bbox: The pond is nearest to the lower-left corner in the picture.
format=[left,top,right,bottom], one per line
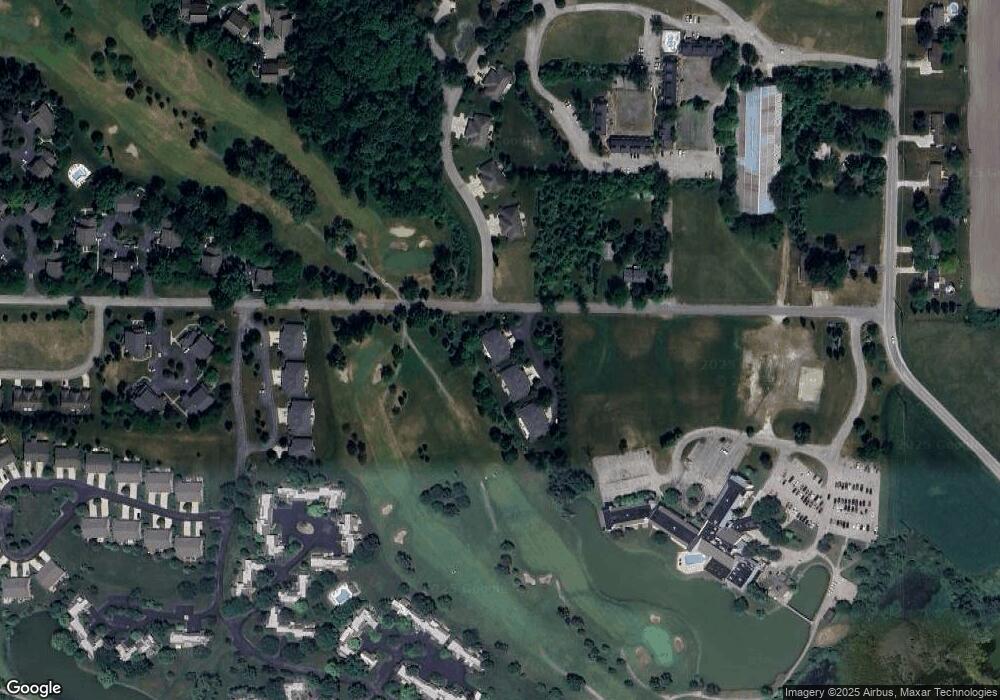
[10,611,129,700]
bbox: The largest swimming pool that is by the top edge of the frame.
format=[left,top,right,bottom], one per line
[662,30,680,53]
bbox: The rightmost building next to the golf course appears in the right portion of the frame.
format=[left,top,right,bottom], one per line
[598,474,760,590]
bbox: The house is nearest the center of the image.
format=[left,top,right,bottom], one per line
[480,326,516,369]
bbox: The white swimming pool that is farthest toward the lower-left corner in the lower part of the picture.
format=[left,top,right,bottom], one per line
[329,583,352,605]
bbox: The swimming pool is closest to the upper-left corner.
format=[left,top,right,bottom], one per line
[68,164,91,187]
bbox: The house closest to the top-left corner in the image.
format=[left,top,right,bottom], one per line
[27,102,54,143]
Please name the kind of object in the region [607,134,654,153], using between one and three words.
building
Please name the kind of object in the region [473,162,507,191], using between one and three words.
house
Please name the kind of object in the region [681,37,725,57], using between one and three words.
building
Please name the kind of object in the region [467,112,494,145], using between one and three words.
house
